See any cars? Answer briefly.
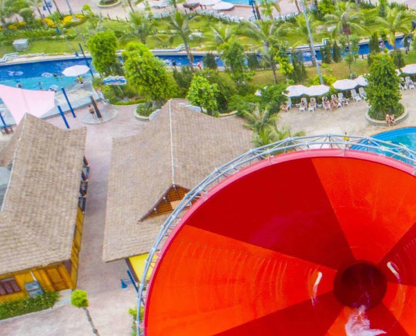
No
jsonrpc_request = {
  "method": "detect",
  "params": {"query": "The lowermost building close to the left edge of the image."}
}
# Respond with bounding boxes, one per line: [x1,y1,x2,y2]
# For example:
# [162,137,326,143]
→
[0,110,98,304]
